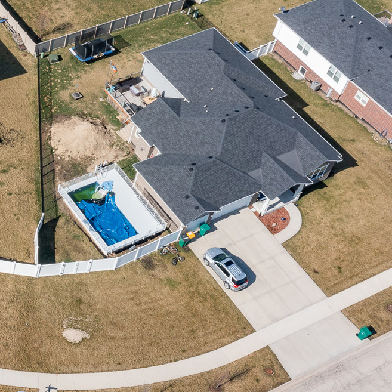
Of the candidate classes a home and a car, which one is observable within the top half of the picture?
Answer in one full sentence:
There is a home within the top half of the picture.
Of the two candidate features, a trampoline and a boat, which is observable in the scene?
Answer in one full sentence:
The image shows a trampoline.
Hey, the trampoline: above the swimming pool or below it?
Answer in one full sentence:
It's above the swimming pool that the trampoline shows up.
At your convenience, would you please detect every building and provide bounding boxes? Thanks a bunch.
[125,27,346,244]
[272,0,392,149]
